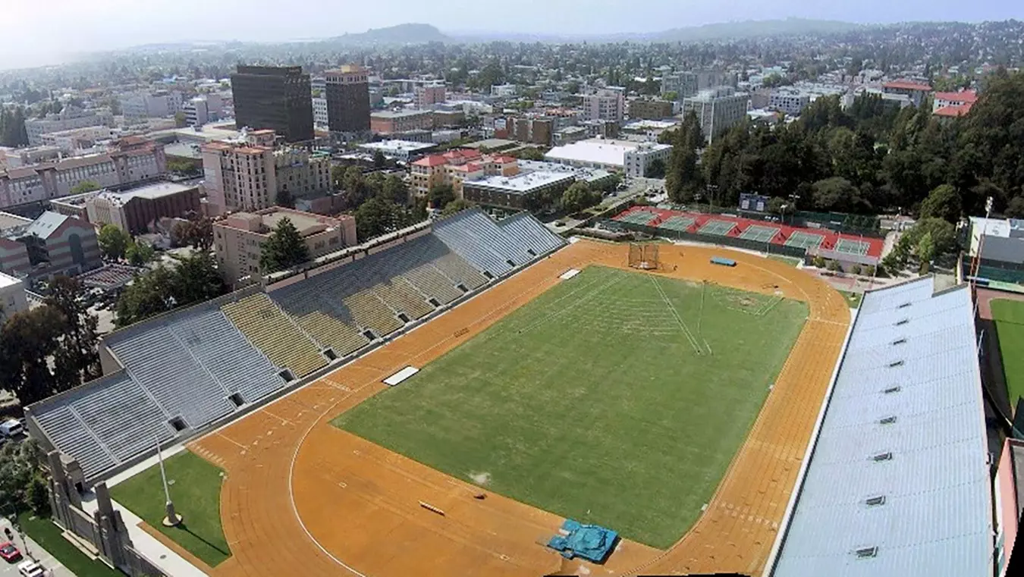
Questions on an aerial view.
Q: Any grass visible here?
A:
Yes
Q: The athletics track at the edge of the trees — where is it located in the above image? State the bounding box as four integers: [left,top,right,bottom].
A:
[185,240,851,577]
